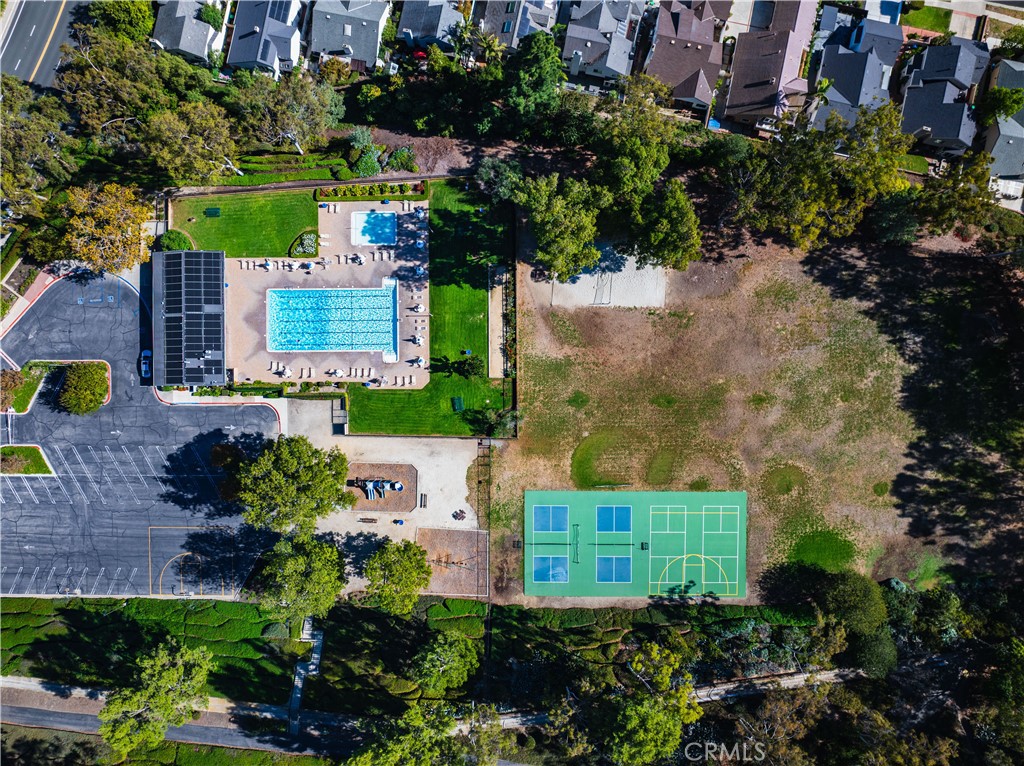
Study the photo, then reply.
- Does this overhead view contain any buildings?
Yes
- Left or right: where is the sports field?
right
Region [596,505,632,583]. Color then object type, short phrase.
blue sports court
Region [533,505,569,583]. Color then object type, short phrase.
blue sports court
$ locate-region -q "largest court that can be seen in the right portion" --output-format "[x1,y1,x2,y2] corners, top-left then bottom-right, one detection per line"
[524,490,747,598]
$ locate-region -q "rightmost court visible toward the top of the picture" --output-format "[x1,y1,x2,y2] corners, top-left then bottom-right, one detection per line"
[552,245,668,307]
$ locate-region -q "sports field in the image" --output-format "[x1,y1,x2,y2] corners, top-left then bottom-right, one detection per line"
[489,232,1024,601]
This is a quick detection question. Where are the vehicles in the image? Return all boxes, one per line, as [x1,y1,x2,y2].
[137,352,150,379]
